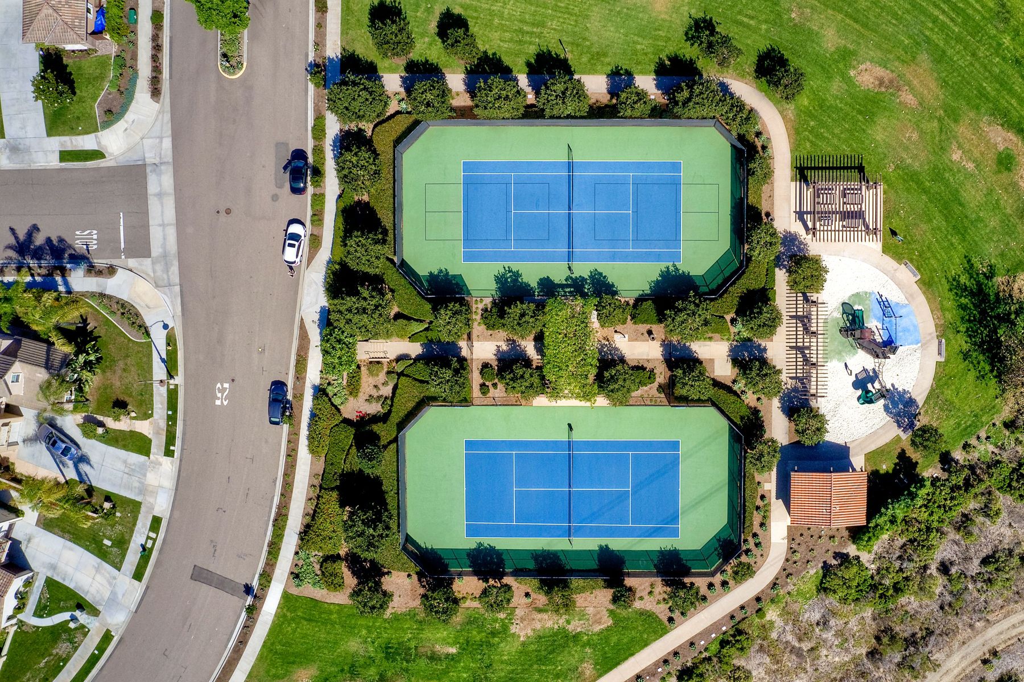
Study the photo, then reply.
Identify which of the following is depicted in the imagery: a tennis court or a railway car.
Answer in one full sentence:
This aerial view contains a tennis court.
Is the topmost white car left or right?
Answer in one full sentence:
The topmost white car appears in the left half of the scene.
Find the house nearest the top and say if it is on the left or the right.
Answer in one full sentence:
The house nearest the top is on the left side of the image.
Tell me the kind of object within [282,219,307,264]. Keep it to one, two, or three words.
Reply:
car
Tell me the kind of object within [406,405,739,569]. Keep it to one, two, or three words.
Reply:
tennis court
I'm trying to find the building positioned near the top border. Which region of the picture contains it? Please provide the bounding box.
[22,0,98,49]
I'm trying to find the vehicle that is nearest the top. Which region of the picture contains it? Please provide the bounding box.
[281,149,309,194]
